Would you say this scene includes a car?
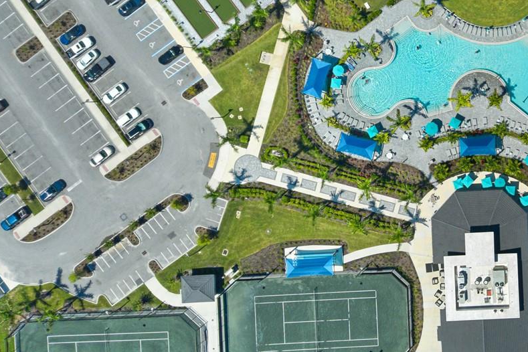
Yes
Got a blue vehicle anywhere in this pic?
Yes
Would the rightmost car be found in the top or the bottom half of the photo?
top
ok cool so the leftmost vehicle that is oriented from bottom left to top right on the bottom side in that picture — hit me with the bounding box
[1,205,32,230]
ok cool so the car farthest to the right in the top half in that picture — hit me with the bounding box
[158,45,183,66]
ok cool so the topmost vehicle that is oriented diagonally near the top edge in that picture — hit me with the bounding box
[119,0,144,17]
